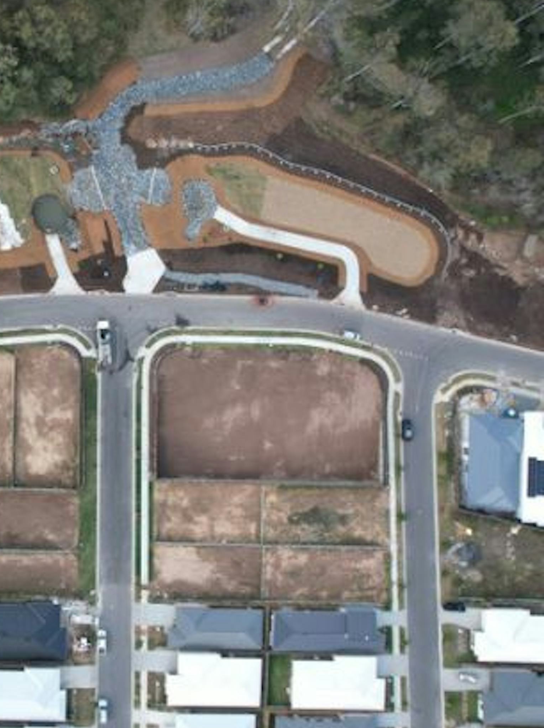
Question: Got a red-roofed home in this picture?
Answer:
No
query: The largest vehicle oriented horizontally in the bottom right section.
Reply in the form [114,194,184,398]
[444,602,471,615]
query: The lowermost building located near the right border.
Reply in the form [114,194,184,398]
[476,669,544,727]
